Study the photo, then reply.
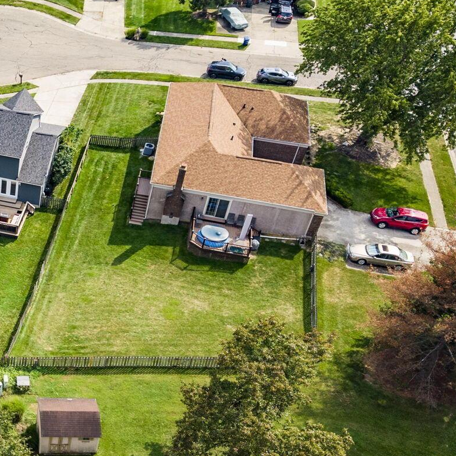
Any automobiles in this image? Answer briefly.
Yes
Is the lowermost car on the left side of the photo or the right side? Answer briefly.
right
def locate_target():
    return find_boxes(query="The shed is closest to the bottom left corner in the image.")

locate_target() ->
[37,399,104,454]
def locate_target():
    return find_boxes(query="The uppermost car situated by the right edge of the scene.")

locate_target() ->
[371,205,435,233]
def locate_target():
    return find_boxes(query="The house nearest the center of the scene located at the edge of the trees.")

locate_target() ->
[127,82,329,246]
